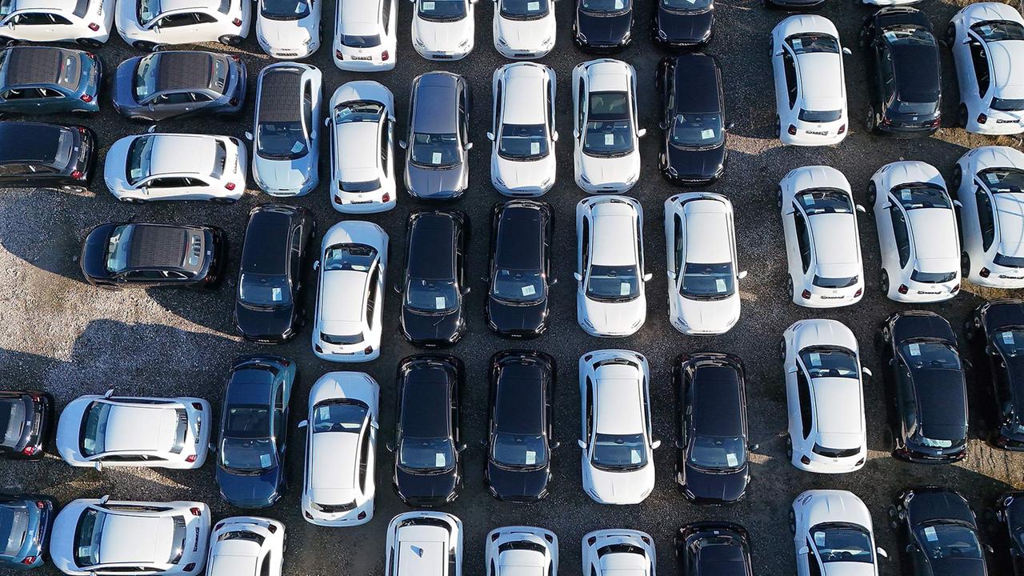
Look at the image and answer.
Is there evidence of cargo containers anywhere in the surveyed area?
No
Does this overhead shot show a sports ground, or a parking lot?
parking lot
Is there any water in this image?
No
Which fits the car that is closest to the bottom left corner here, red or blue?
blue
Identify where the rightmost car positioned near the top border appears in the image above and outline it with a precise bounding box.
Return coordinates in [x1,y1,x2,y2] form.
[948,5,1024,134]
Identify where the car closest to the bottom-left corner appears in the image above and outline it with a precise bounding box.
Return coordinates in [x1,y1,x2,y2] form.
[0,494,55,569]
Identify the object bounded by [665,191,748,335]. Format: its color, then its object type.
white car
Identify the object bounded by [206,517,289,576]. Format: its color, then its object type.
white car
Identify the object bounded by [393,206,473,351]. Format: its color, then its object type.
black car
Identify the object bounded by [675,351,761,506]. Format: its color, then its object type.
black car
